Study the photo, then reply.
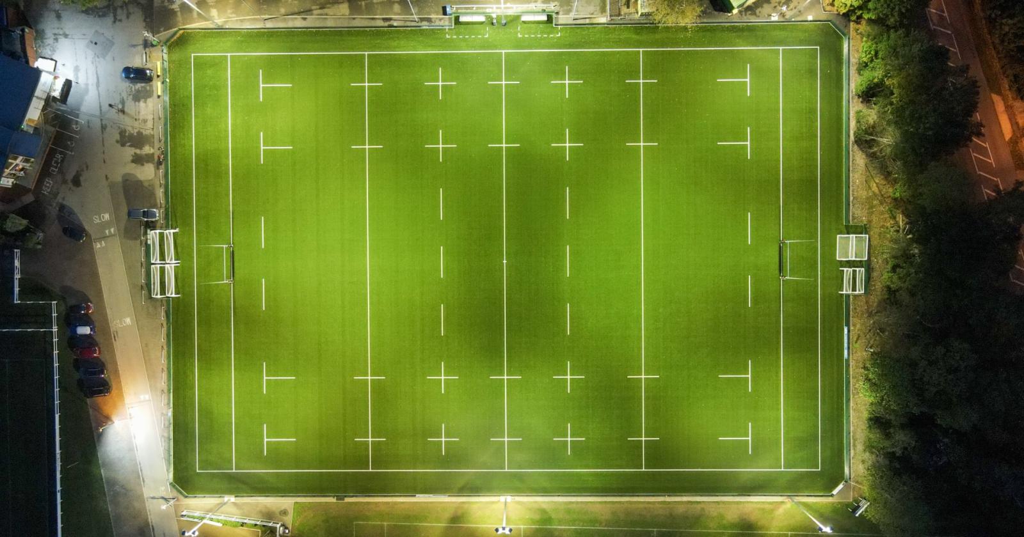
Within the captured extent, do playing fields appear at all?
Yes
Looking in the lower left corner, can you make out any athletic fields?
Yes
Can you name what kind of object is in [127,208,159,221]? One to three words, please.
vehicle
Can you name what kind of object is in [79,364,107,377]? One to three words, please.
vehicle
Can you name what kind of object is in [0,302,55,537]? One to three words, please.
sports field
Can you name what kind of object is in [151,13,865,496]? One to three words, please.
sports field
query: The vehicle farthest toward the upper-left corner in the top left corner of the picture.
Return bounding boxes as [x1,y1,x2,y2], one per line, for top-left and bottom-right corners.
[122,66,153,82]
